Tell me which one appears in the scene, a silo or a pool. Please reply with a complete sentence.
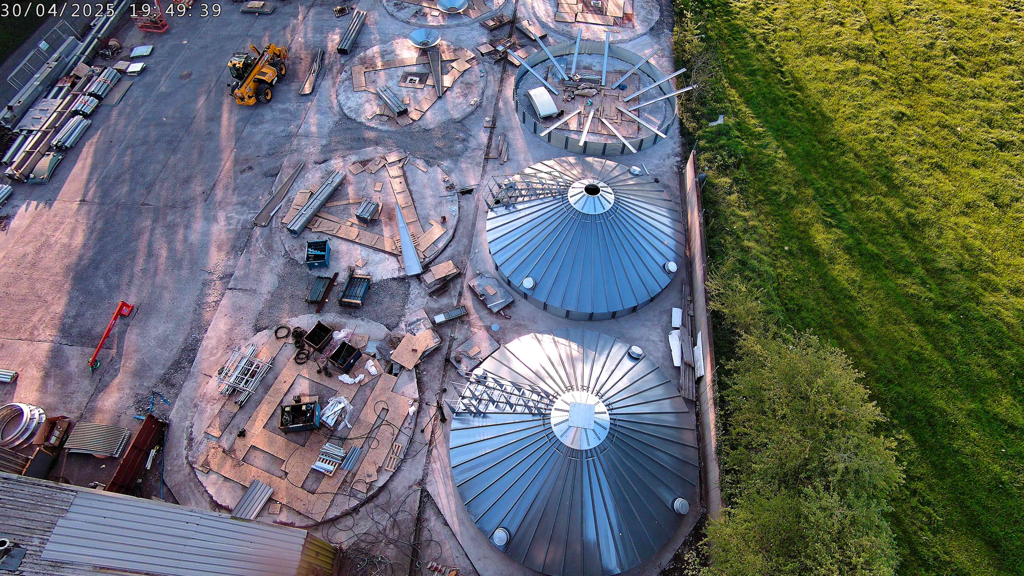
Visible in the photo is a silo.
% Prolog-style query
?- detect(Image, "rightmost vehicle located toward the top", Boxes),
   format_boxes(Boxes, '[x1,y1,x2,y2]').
[215,41,288,105]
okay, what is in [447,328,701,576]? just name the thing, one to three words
silo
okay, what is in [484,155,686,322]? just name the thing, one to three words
silo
